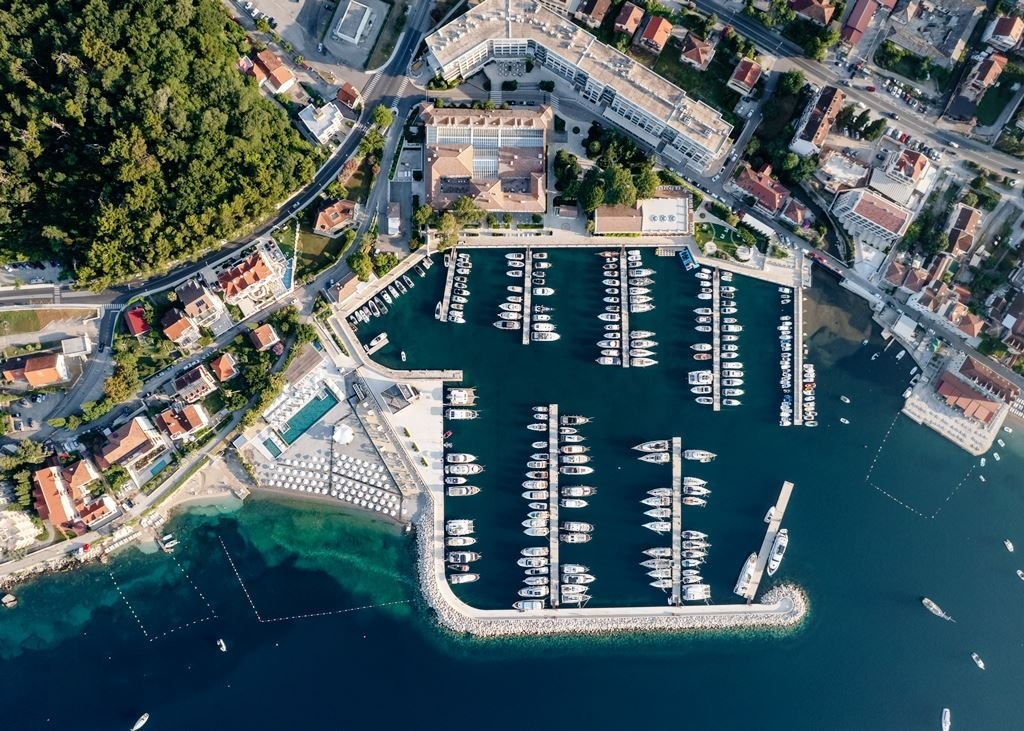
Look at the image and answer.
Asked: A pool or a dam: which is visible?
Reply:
pool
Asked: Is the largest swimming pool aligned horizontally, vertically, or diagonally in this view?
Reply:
diagonally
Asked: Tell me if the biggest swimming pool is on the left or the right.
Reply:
left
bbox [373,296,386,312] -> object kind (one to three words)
boat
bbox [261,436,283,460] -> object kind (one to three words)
swimming pool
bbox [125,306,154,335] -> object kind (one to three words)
house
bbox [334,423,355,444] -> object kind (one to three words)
tent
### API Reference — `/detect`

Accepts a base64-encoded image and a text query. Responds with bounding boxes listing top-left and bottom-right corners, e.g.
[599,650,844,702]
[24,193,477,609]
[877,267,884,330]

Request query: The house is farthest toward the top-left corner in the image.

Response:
[238,47,298,93]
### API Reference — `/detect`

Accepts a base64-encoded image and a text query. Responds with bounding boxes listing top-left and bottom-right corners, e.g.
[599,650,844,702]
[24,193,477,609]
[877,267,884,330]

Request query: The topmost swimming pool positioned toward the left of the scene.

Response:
[280,258,293,291]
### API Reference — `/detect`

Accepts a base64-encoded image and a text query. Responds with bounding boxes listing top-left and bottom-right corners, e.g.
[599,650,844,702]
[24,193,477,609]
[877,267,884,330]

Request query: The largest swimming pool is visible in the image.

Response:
[277,385,340,447]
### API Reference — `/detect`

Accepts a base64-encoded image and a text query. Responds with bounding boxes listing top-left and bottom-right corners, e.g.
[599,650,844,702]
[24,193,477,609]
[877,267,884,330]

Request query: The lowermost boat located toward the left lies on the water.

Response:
[132,713,147,730]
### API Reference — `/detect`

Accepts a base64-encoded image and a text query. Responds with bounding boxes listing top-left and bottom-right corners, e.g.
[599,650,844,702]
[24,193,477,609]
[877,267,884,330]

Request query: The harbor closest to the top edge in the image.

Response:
[320,233,812,319]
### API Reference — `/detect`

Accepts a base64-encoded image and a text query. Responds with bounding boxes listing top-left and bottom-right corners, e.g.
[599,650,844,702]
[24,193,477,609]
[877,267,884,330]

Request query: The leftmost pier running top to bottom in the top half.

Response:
[440,247,458,321]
